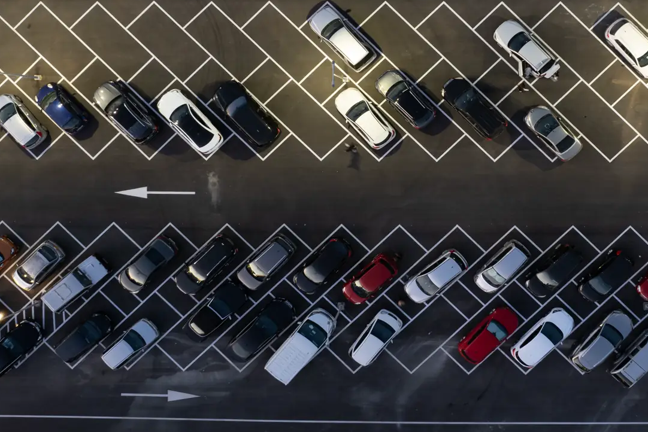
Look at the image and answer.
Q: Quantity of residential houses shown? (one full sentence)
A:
No residential houses are visible.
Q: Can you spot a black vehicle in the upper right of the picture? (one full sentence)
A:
Yes, looking in the upper right of the picture, one can make out a black vehicle.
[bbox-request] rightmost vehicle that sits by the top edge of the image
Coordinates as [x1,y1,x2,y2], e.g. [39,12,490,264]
[601,15,648,80]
